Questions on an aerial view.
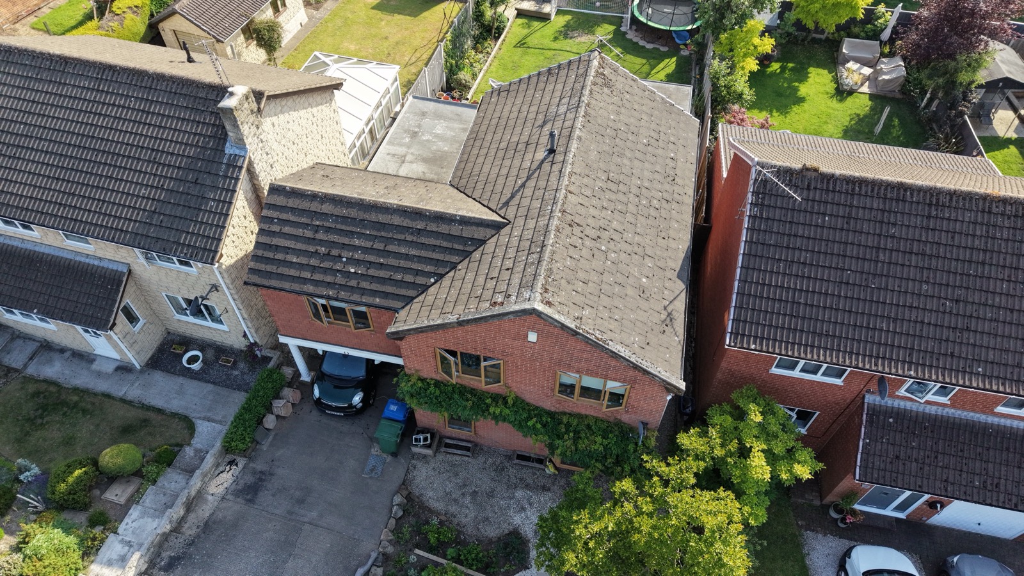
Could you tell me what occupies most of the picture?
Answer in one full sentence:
The scene is dominated by buildings.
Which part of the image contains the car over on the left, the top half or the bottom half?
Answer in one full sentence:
Seen from above, the car over on the left lies in the bottom half of the view.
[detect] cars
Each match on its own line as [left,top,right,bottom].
[939,558,1012,576]
[834,537,915,576]
[318,348,388,417]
